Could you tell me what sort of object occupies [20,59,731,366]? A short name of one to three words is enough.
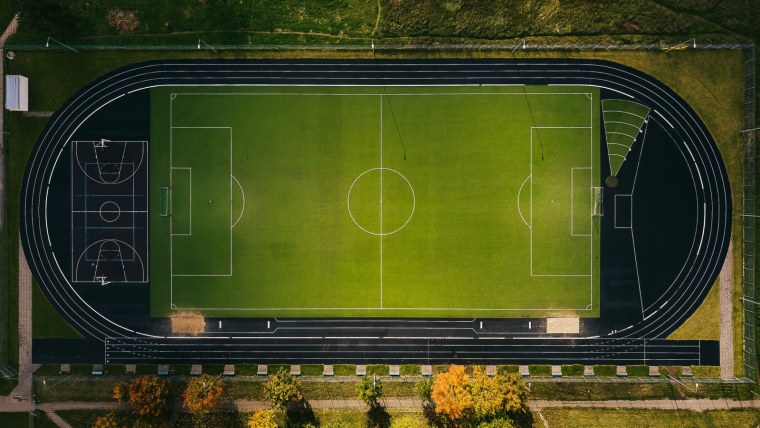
running track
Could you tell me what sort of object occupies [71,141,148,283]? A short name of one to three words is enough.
basketball court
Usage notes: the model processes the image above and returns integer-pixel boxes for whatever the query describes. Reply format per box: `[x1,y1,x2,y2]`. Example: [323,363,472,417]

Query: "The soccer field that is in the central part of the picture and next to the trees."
[150,87,600,317]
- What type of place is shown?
sports ground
